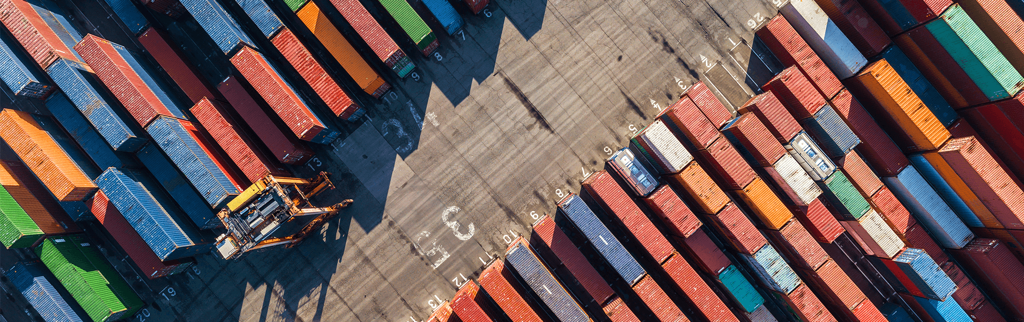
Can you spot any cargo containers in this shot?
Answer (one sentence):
Yes, there's a cargo container here.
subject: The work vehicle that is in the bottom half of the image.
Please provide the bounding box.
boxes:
[213,167,351,259]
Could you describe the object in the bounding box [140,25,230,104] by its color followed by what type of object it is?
red shipping container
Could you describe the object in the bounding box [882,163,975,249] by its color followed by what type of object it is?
blue shipping container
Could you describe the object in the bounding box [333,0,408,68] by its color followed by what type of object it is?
red shipping container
